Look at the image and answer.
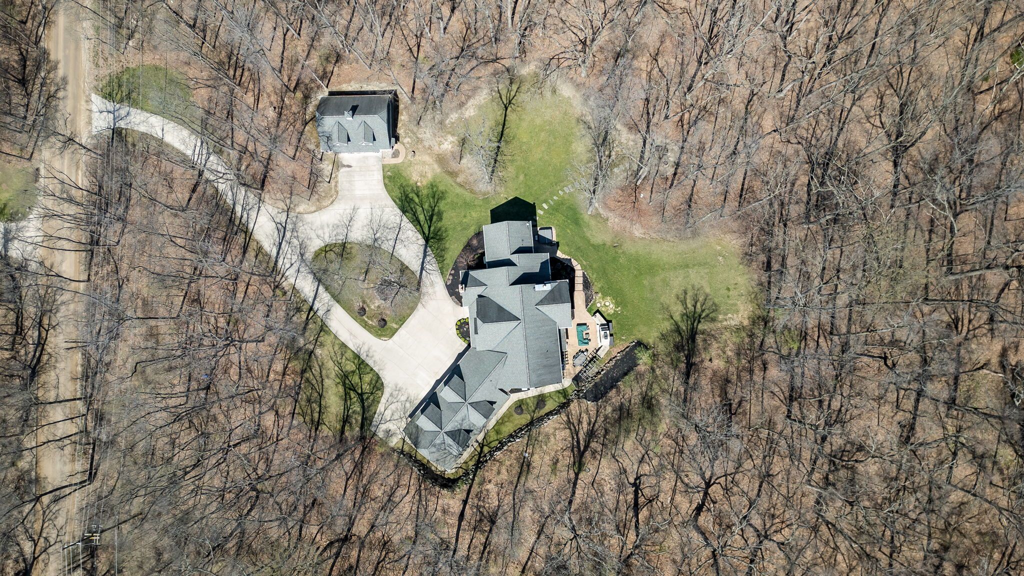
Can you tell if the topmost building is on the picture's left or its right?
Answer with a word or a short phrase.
left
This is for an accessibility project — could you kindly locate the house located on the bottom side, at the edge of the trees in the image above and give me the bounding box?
[402,221,572,471]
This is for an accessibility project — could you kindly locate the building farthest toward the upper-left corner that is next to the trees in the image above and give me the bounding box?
[311,95,396,153]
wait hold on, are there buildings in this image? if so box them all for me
[311,95,396,153]
[402,221,572,471]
